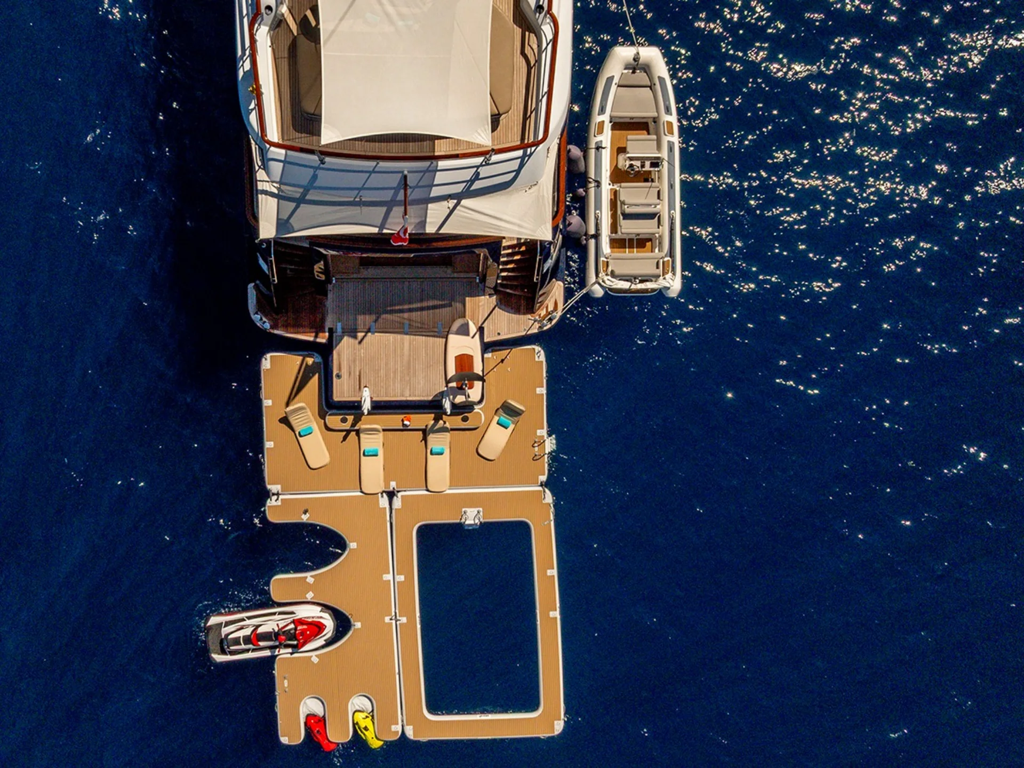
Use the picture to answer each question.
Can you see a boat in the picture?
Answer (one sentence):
Yes, there's a boat down there.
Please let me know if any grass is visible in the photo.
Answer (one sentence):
No, there is no grass in the image.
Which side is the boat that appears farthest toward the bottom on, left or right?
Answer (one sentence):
It is on the left.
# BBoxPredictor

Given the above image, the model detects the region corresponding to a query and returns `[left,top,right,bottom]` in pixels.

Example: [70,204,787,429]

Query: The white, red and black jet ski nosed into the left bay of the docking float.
[205,602,338,663]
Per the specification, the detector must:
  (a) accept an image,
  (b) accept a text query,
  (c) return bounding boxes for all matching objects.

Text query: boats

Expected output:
[586,45,681,300]
[205,602,338,663]
[238,0,573,407]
